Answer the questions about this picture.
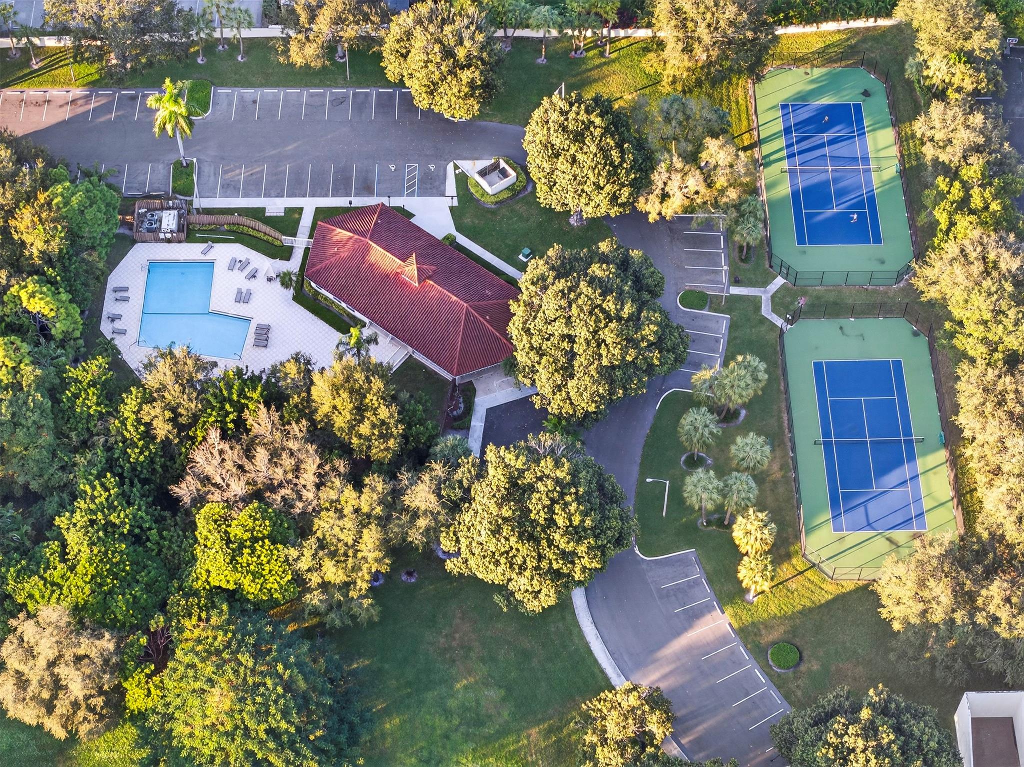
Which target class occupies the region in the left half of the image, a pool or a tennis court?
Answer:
pool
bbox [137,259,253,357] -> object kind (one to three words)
swimming pool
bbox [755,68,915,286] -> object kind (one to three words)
tennis court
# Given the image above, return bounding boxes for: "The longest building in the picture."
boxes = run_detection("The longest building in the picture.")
[305,201,527,390]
